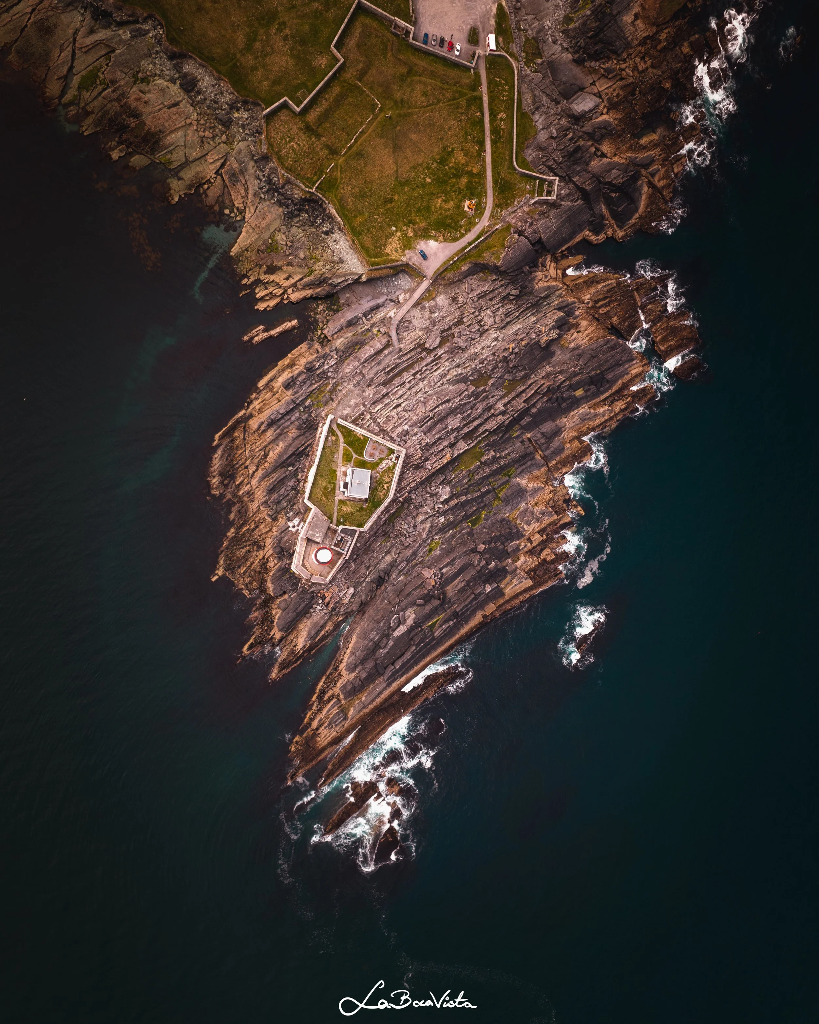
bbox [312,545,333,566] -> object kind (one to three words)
lighthouse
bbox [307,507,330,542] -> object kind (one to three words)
building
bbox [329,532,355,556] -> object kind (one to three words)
building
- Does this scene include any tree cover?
No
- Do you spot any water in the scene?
Yes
